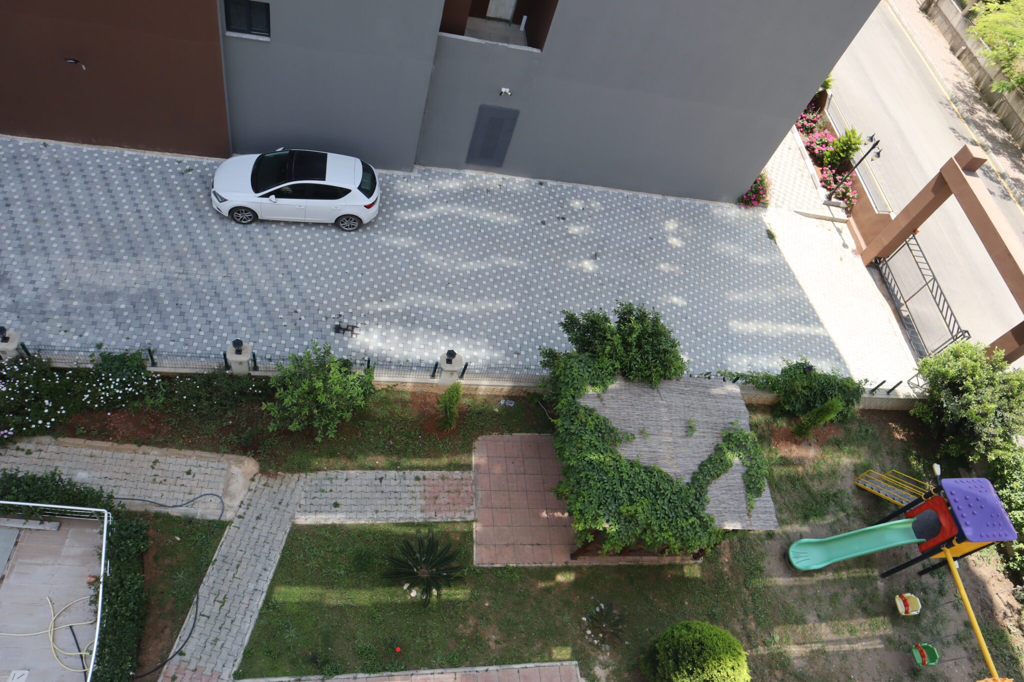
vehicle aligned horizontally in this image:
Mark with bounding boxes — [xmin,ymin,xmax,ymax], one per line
[211,145,381,232]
